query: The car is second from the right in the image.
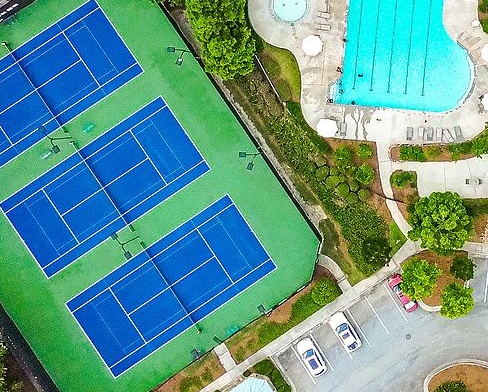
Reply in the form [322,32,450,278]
[329,310,363,351]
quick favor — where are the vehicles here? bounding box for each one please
[329,310,363,351]
[385,271,421,314]
[294,338,328,378]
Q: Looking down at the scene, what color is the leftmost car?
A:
white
